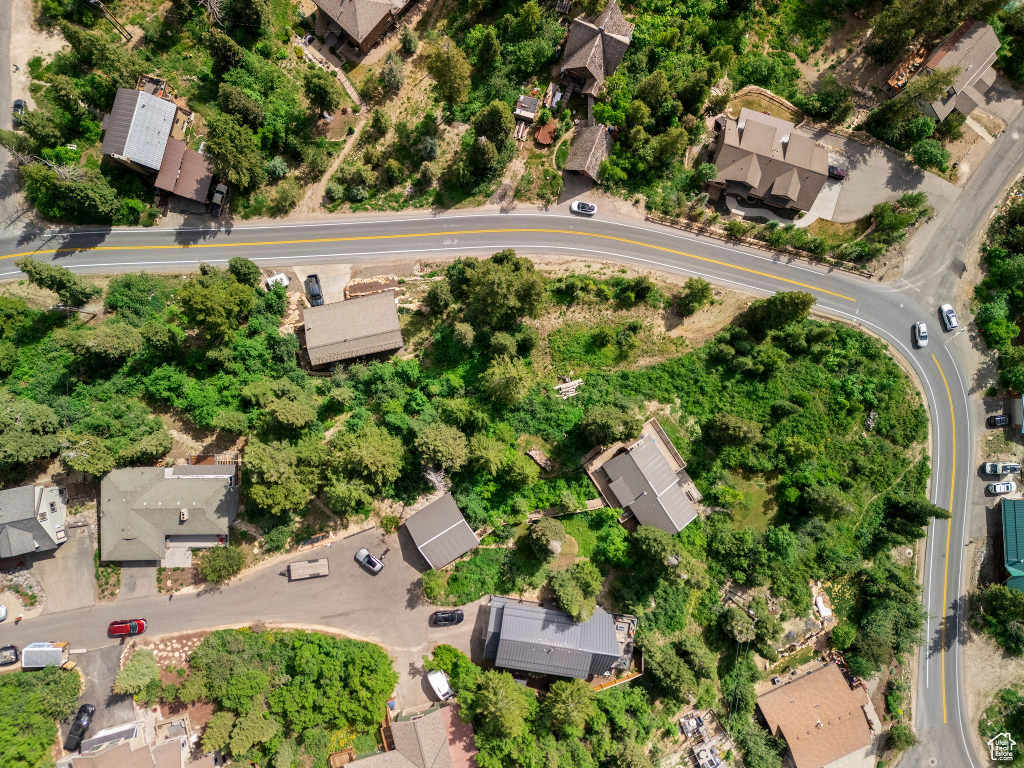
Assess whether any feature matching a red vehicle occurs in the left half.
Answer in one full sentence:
Yes, looking in the left half, one can make out a red vehicle.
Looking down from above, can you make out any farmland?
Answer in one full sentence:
No, the picture contains no farmland.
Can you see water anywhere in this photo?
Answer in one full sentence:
No, the picture contains no water.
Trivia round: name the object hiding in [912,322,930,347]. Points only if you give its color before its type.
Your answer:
white car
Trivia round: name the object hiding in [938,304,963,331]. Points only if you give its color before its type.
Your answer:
white car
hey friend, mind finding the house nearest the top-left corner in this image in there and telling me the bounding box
[101,88,198,176]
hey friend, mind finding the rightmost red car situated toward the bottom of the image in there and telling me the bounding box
[107,618,147,638]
